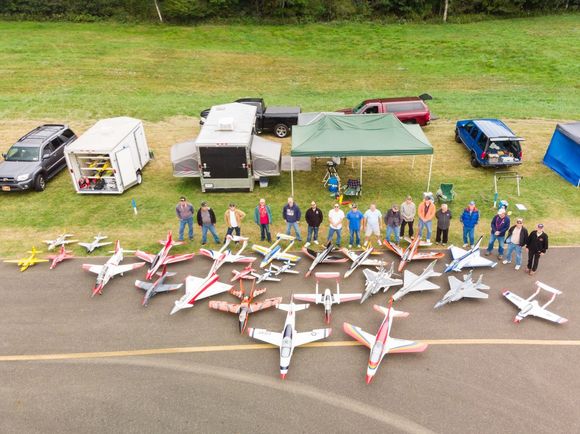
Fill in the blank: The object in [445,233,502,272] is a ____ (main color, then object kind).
white airplane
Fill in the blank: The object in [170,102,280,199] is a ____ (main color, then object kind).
white camper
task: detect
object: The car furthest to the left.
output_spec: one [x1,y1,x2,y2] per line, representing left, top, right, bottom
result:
[0,124,77,190]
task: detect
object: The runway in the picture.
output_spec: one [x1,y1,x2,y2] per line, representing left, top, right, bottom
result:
[0,247,580,434]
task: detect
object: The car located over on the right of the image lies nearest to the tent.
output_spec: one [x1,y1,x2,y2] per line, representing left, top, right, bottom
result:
[455,116,535,167]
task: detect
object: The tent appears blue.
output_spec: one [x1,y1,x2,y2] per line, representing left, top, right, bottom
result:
[539,119,580,189]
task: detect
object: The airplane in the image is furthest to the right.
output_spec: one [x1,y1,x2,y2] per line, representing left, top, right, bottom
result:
[499,272,570,323]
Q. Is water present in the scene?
No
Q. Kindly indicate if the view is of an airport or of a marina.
airport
